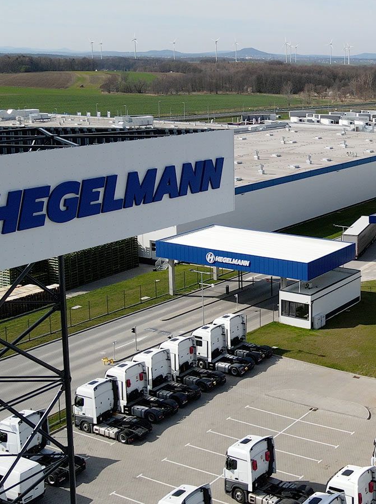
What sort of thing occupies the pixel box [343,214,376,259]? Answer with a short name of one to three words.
trailer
